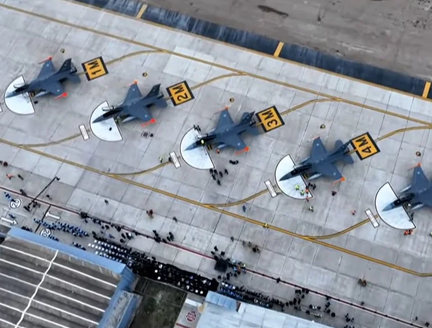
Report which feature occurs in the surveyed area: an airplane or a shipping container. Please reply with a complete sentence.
Looking from above, you can make out an airplane.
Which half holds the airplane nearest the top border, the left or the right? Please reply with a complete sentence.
The airplane nearest the top border is on the left side of the image.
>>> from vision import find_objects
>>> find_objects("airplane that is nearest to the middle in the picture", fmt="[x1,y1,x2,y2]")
[181,108,260,154]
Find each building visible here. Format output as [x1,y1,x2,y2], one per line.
[0,227,140,328]
[195,292,326,328]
